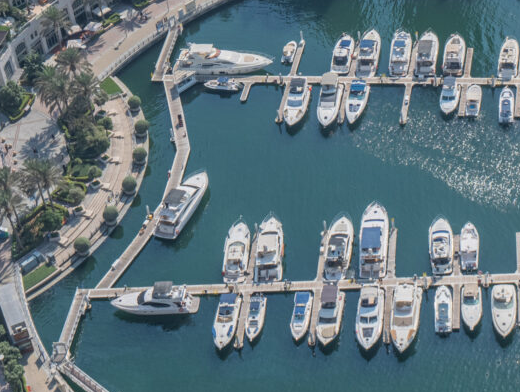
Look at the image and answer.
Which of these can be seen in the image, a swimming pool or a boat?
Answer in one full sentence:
Visible in the photo is a boat.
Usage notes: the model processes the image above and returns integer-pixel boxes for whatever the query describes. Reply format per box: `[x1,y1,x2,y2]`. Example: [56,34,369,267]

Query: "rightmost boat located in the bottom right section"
[490,285,518,339]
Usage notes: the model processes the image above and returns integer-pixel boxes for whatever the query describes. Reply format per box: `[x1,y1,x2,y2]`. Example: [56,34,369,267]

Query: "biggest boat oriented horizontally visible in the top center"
[170,43,273,79]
